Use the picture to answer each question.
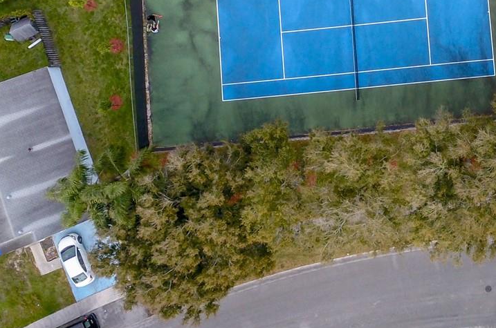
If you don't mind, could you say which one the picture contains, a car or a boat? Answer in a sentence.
There is a car in the scene.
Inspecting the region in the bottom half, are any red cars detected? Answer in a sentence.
No, no red car is visible in the bottom half.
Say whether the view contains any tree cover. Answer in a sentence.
Yes, there is tree cover in the image.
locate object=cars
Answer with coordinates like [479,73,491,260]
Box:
[50,311,98,328]
[55,233,93,292]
